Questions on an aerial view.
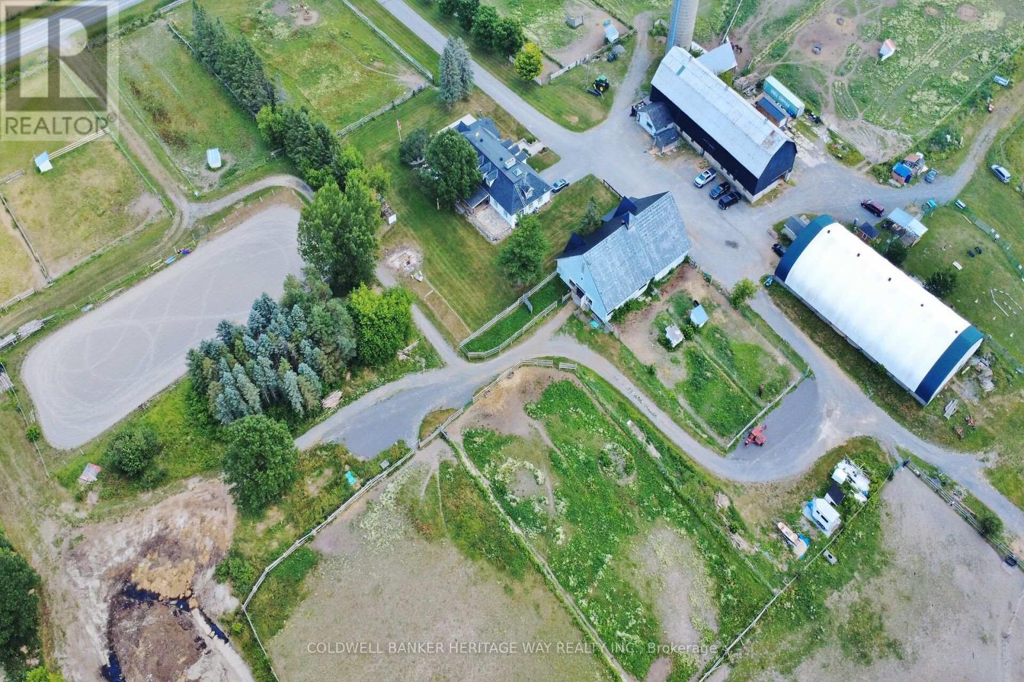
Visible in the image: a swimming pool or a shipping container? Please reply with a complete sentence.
Looking from above, you can make out a shipping container.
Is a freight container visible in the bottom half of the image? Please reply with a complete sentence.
No, the scene shows no freight container in the bottom half of the image.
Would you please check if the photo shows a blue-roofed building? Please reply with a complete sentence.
Yes, the image includes a blue-roofed building.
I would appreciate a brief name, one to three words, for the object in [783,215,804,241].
shed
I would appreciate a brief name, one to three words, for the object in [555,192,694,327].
barn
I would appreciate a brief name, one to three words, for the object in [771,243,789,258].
car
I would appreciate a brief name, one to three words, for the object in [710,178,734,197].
vehicle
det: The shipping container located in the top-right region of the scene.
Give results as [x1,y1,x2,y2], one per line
[763,74,805,117]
